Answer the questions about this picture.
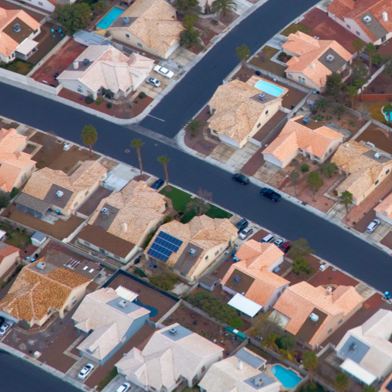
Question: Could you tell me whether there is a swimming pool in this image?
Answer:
Yes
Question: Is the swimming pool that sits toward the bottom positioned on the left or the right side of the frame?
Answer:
right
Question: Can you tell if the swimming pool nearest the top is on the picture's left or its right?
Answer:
left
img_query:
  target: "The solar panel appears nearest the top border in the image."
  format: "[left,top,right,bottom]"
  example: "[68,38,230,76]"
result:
[148,233,183,261]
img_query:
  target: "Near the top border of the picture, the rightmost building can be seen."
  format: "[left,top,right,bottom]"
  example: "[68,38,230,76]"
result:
[328,0,392,46]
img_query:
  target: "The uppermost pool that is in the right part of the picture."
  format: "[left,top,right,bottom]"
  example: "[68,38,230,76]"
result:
[252,78,286,98]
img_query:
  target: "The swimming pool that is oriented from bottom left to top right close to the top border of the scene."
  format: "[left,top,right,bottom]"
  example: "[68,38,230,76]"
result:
[96,5,126,29]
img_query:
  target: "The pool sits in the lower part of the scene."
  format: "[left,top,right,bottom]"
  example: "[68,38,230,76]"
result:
[268,363,303,389]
